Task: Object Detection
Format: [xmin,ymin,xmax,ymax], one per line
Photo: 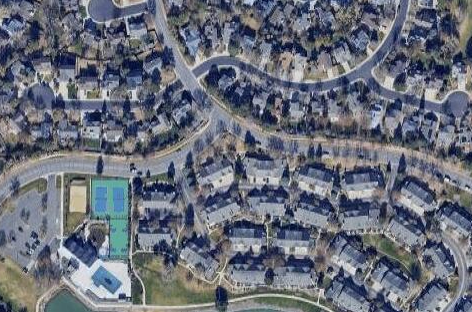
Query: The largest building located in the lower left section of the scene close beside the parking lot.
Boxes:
[61,233,98,266]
